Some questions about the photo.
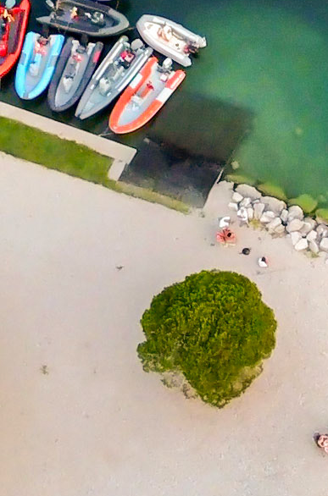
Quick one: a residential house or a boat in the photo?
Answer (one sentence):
This aerial view contains a boat.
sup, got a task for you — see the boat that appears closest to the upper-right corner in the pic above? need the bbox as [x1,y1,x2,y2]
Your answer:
[135,15,207,64]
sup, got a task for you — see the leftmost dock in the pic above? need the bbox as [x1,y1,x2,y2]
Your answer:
[0,102,138,180]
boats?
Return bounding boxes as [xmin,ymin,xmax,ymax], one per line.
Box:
[0,0,29,77]
[48,38,103,110]
[109,58,183,132]
[75,37,152,119]
[40,0,130,33]
[19,30,64,100]
[135,15,207,64]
